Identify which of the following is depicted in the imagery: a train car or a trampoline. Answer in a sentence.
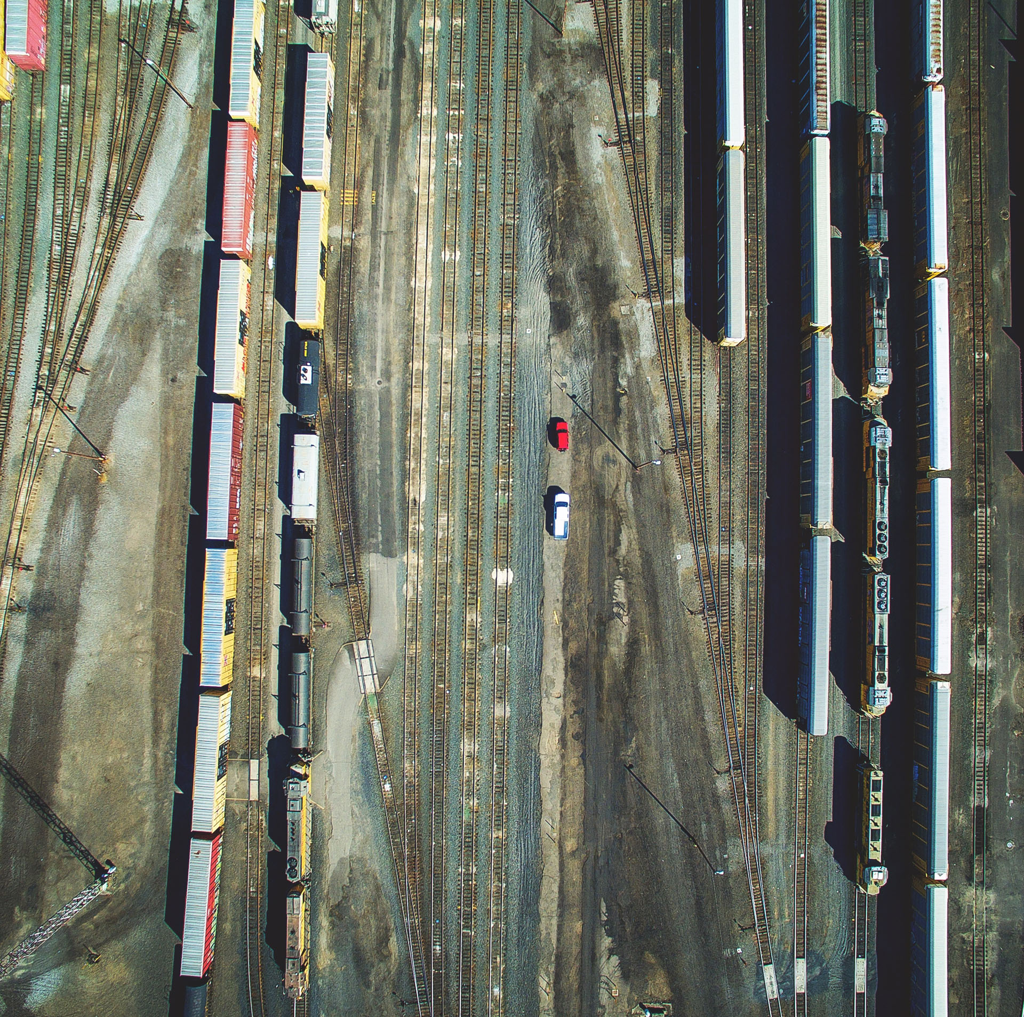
This aerial view contains a train car.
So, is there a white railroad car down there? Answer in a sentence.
Yes, you can see a white railroad car in this photo.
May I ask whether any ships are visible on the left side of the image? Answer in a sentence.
No, on the left side of the image there is no ship.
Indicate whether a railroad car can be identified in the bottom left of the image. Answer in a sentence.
Yes, I can see a railroad car in the bottom left of the image.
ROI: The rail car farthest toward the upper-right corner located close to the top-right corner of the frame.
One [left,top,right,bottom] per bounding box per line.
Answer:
[851,101,886,254]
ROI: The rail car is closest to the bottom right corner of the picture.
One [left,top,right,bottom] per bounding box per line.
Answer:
[852,759,886,904]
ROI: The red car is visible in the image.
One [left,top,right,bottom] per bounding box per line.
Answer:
[555,422,570,454]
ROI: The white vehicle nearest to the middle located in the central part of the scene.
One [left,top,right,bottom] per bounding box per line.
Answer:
[553,493,570,539]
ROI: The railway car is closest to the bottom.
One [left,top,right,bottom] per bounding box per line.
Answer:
[180,970,214,1017]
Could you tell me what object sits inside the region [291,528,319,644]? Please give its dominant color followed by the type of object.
gray rail car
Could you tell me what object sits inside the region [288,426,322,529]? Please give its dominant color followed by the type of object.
white rail car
